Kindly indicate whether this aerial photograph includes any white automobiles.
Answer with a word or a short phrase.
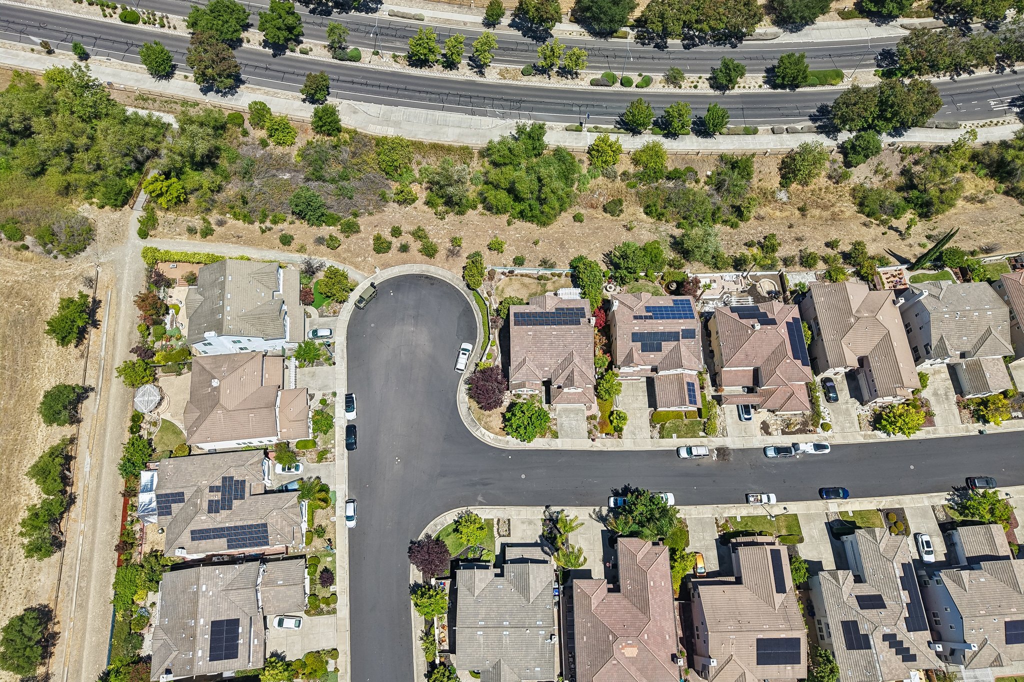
Yes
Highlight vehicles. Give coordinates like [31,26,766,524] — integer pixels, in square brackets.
[356,282,378,307]
[343,497,358,529]
[745,491,777,506]
[271,615,305,631]
[692,550,708,578]
[677,444,711,459]
[916,532,935,566]
[802,441,831,455]
[820,376,839,404]
[964,475,998,489]
[272,473,303,494]
[307,327,333,340]
[738,404,753,425]
[764,445,795,458]
[274,461,305,475]
[646,492,676,505]
[344,423,358,452]
[817,486,850,501]
[344,392,358,420]
[455,343,474,372]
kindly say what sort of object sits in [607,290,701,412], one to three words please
house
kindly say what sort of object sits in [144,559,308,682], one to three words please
house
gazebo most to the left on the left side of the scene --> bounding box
[128,383,164,414]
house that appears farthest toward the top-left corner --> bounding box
[184,258,308,355]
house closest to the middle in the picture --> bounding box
[509,294,597,408]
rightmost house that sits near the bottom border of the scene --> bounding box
[922,525,1024,677]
